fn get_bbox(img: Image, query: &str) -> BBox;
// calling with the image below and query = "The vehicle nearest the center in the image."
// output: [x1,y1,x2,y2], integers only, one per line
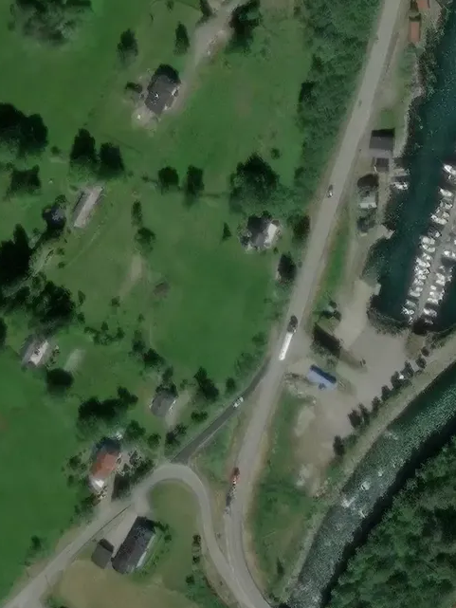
[278,316,297,360]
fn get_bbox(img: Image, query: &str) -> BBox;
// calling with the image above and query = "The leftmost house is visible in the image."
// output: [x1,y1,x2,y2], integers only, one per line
[21,336,48,366]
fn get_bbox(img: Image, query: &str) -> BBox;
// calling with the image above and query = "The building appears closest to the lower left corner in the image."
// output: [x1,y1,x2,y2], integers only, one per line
[91,544,113,568]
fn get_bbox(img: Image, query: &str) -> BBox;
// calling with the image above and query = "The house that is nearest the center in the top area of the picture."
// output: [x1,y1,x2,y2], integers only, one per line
[255,219,285,247]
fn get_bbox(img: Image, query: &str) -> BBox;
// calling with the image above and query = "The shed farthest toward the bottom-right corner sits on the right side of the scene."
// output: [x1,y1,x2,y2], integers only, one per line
[305,365,337,392]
